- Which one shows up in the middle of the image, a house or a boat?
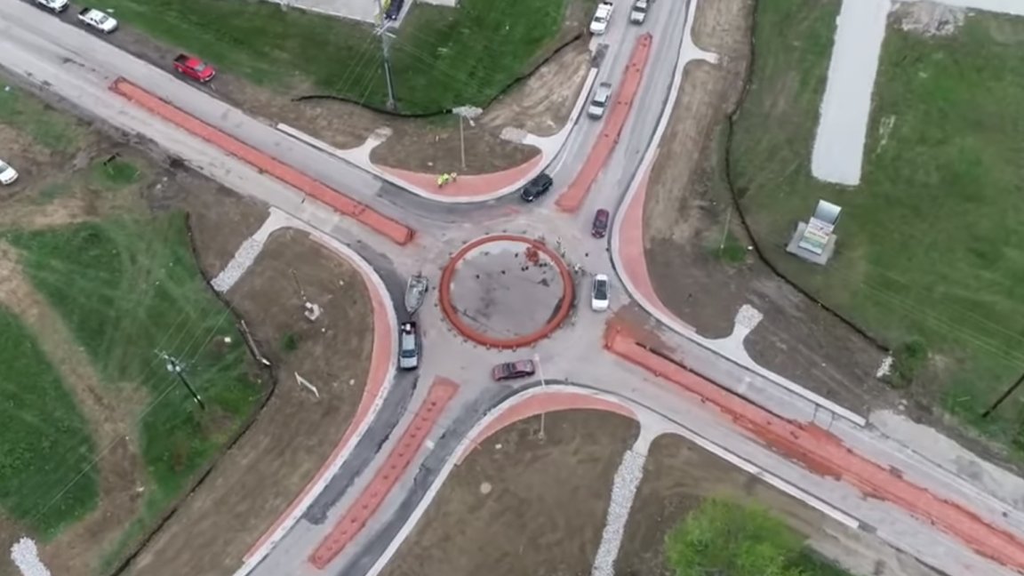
boat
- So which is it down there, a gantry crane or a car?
car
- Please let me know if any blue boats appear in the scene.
No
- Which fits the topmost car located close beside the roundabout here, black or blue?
black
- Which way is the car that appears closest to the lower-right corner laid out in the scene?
vertically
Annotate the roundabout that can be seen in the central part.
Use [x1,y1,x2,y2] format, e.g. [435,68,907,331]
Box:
[404,210,614,384]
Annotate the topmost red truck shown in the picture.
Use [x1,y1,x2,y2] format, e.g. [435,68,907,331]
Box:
[170,52,213,80]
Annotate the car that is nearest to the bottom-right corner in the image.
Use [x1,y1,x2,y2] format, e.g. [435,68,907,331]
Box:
[591,271,612,312]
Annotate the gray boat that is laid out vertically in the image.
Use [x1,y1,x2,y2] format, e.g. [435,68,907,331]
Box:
[402,264,427,310]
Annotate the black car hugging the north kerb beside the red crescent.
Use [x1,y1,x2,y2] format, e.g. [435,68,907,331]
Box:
[520,169,556,202]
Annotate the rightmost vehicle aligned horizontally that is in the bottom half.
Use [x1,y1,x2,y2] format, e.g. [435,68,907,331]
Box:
[490,357,538,380]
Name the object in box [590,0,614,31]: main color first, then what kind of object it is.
white truck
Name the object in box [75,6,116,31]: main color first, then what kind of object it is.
white truck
